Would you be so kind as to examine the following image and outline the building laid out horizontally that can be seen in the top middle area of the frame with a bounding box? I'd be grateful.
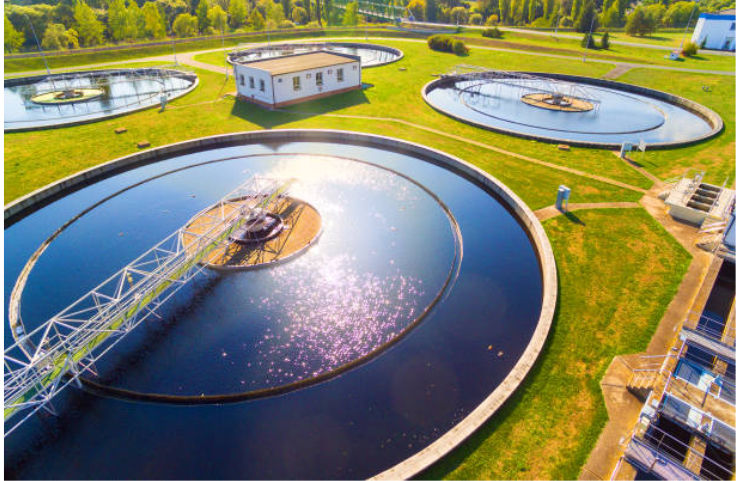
[234,51,361,107]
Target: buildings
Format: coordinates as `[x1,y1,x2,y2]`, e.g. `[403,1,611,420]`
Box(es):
[234,51,361,107]
[690,7,740,48]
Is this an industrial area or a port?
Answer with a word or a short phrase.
industrial area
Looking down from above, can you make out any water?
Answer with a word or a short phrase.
Yes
